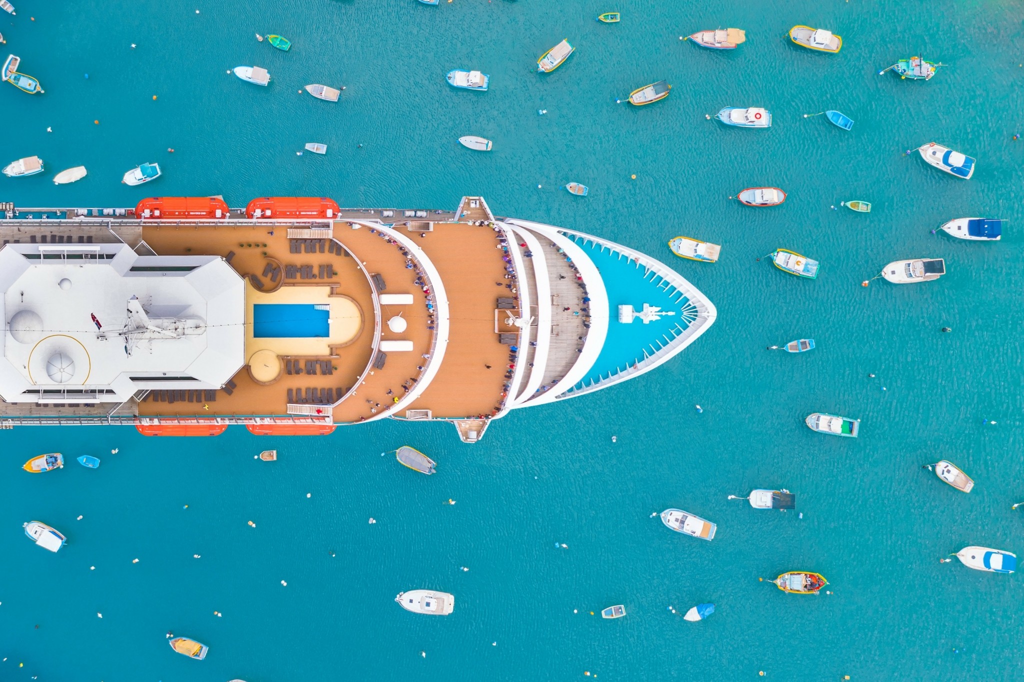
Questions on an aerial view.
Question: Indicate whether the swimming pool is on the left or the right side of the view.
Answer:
left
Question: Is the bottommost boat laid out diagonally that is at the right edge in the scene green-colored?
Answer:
No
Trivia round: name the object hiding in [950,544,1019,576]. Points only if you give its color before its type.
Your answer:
white boat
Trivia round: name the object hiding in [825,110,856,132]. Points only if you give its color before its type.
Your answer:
blue boat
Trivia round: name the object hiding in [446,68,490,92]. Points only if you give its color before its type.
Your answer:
white boat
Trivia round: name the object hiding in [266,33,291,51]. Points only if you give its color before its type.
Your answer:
green boat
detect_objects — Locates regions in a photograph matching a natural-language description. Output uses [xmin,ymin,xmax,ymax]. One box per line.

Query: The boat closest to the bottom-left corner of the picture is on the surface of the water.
[23,520,70,554]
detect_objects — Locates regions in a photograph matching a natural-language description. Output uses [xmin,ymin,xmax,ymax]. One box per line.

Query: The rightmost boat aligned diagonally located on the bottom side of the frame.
[930,462,978,494]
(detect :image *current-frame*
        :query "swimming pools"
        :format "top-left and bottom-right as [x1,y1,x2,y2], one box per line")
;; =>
[253,304,333,338]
